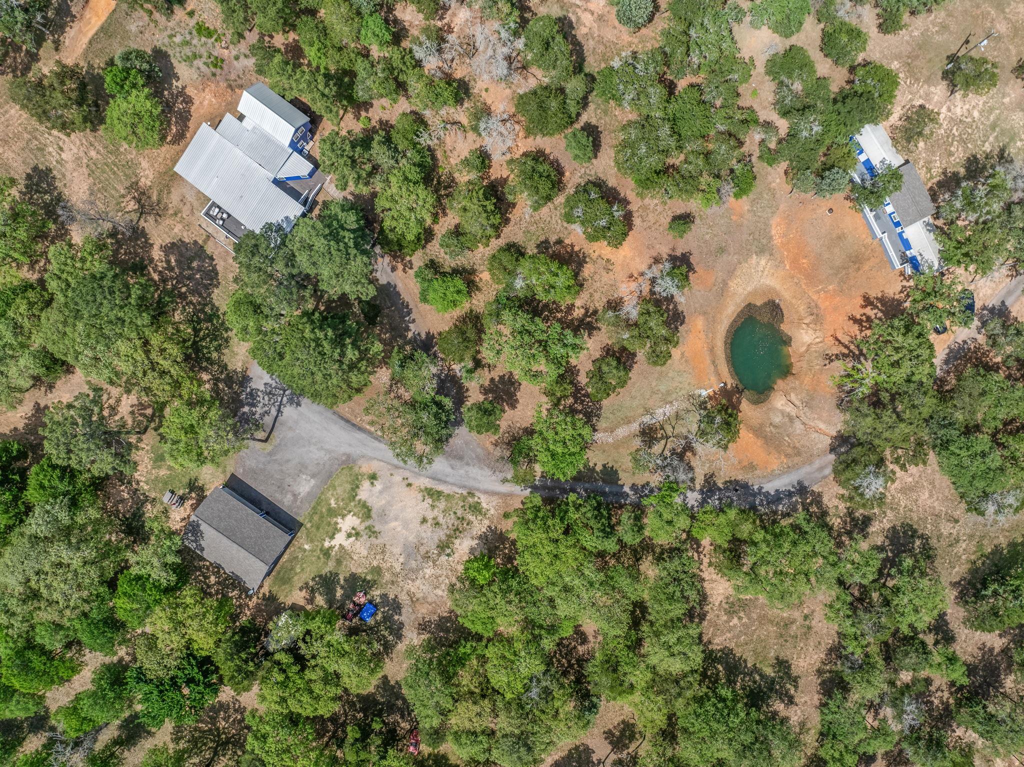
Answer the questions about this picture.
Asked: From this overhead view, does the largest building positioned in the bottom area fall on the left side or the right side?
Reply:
left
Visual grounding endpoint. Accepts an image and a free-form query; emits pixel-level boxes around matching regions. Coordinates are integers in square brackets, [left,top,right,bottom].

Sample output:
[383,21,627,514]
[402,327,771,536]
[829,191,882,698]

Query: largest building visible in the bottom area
[180,484,295,591]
